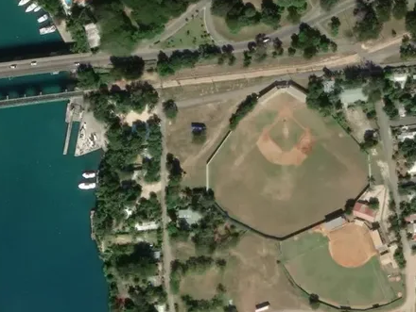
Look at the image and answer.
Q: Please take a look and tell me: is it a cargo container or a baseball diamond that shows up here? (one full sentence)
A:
This aerial view contains a baseball diamond.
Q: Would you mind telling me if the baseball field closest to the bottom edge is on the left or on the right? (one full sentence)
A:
You can find the baseball field closest to the bottom edge on the right side of the picture.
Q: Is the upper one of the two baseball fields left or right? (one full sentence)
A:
The upper one of the two baseball fields sits on the right side.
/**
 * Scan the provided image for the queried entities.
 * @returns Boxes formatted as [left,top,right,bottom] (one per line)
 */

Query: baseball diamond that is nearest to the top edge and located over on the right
[207,89,370,239]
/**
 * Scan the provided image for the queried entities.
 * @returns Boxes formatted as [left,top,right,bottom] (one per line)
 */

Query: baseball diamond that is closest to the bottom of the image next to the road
[280,223,399,309]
